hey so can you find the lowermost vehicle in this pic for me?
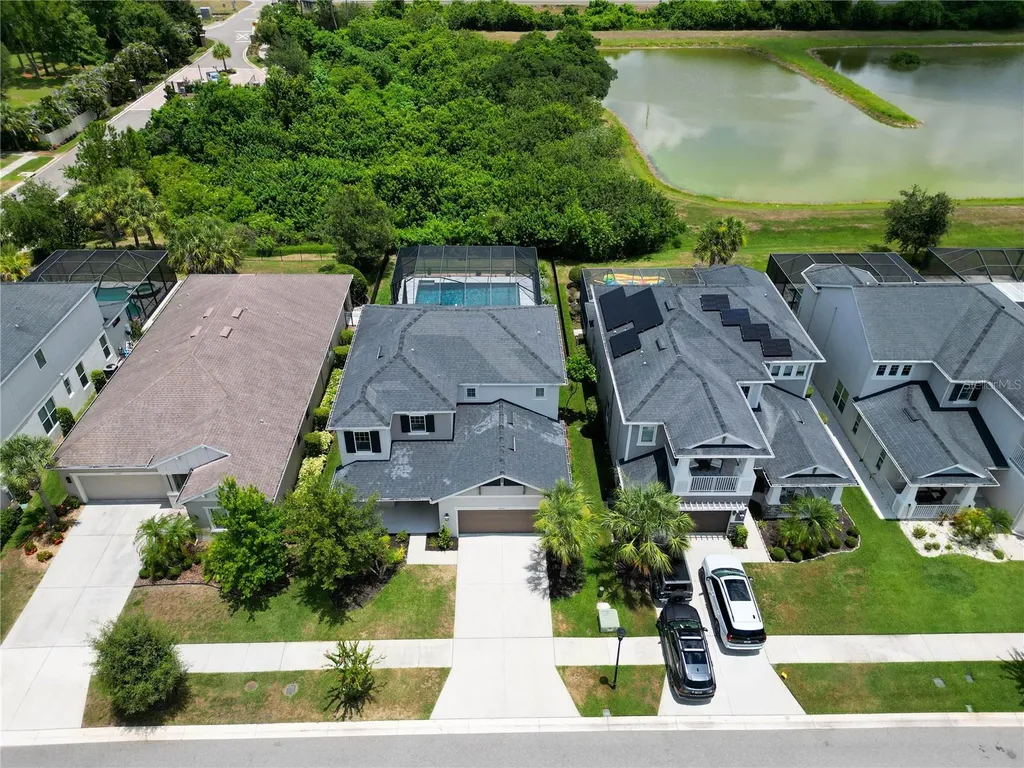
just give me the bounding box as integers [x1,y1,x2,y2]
[659,607,718,703]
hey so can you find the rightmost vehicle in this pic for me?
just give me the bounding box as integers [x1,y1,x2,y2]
[702,562,767,650]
